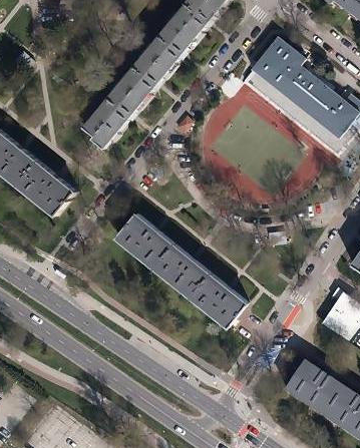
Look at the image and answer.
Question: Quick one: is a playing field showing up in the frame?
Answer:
Yes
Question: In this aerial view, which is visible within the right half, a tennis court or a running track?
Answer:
running track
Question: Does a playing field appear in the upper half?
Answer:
Yes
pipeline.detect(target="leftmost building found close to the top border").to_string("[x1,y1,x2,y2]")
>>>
[82,0,232,151]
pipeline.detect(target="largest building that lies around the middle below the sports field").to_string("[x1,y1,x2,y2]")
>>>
[115,214,248,330]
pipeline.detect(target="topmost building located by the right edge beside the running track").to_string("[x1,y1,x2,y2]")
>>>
[253,37,360,139]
